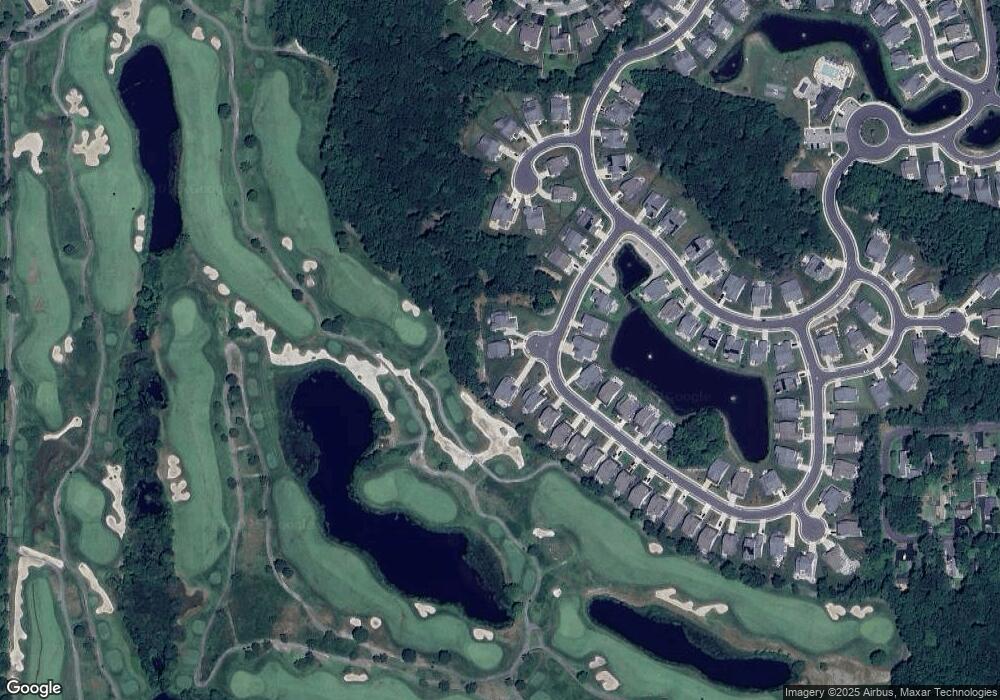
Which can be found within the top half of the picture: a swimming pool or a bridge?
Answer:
swimming pool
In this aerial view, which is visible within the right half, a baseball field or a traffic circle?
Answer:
traffic circle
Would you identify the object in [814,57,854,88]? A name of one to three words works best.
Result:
swimming pool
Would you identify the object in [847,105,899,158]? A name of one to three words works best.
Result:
roundabout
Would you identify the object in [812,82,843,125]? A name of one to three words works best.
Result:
building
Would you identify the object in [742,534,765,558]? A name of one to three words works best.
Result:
house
